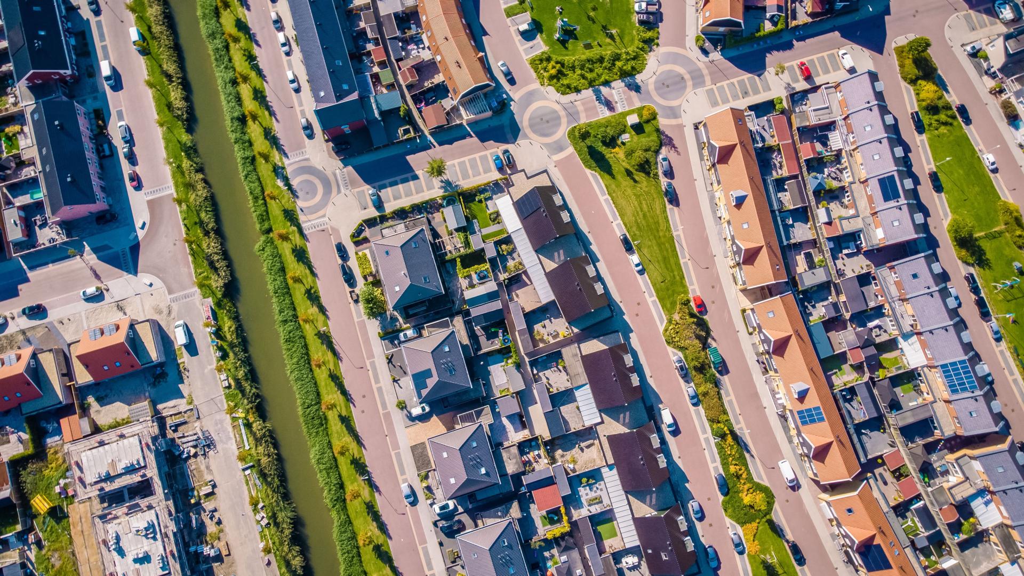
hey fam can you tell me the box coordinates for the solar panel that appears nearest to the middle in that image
[515,189,541,219]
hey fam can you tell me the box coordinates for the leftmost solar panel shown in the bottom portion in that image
[412,369,432,399]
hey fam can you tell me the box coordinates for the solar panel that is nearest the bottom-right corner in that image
[857,544,892,572]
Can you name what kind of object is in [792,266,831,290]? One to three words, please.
shed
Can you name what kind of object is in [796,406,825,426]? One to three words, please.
solar panel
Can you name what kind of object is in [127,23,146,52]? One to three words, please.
vehicle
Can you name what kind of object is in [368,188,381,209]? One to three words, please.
vehicle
